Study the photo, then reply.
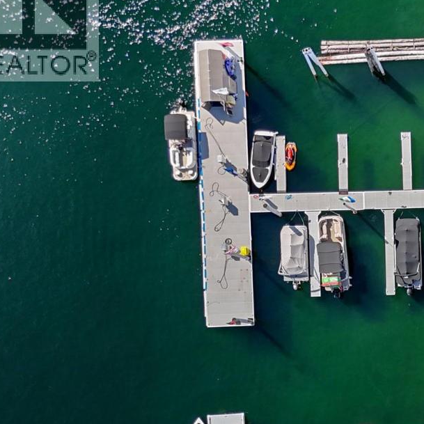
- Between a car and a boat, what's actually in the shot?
boat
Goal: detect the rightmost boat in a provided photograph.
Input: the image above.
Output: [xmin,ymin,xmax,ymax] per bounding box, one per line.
[395,209,424,297]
